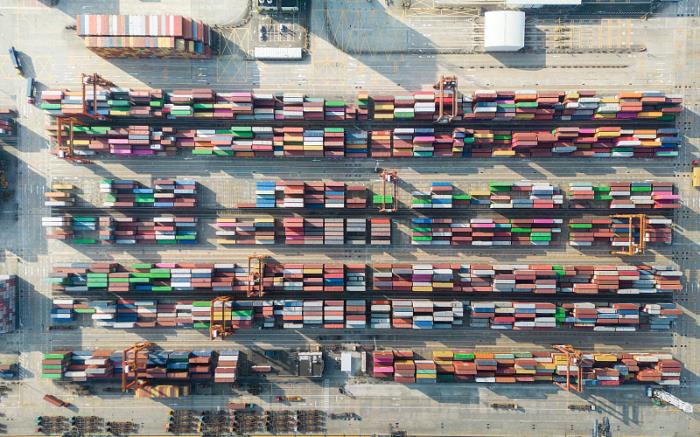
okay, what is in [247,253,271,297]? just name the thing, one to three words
container crane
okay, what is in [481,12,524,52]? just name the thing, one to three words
building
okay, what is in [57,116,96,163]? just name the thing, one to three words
container crane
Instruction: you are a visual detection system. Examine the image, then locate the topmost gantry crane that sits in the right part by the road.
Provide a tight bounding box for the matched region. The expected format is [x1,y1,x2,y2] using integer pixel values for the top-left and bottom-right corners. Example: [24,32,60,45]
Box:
[431,76,456,126]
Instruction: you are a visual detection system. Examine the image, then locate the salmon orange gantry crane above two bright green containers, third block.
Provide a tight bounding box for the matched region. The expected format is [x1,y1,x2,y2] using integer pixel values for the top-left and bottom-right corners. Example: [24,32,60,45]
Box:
[378,173,399,213]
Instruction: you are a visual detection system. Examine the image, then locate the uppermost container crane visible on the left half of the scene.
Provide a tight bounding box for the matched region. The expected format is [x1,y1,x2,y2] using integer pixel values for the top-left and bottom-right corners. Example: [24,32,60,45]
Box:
[81,73,117,123]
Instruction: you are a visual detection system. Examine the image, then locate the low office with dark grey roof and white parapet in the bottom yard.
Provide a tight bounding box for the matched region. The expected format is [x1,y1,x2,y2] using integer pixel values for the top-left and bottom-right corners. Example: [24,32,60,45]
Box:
[298,351,323,375]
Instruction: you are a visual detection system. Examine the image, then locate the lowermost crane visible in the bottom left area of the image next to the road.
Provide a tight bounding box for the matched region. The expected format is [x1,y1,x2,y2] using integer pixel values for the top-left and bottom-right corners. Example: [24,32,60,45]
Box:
[122,340,155,392]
